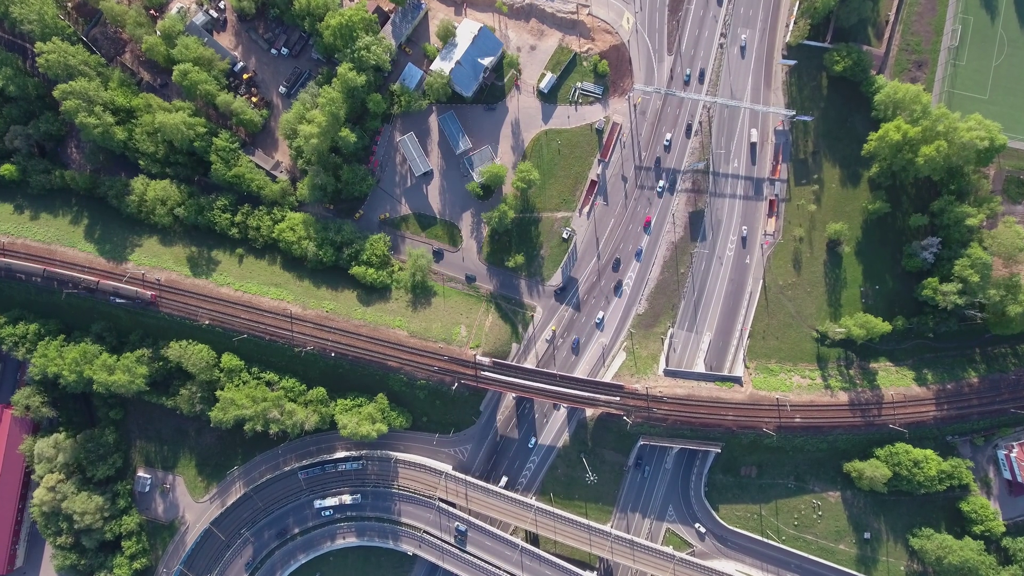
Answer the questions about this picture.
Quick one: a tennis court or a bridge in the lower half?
bridge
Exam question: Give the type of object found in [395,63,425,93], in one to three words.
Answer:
building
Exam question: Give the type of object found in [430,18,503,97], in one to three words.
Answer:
house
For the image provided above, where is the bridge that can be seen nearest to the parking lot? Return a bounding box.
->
[459,355,626,417]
